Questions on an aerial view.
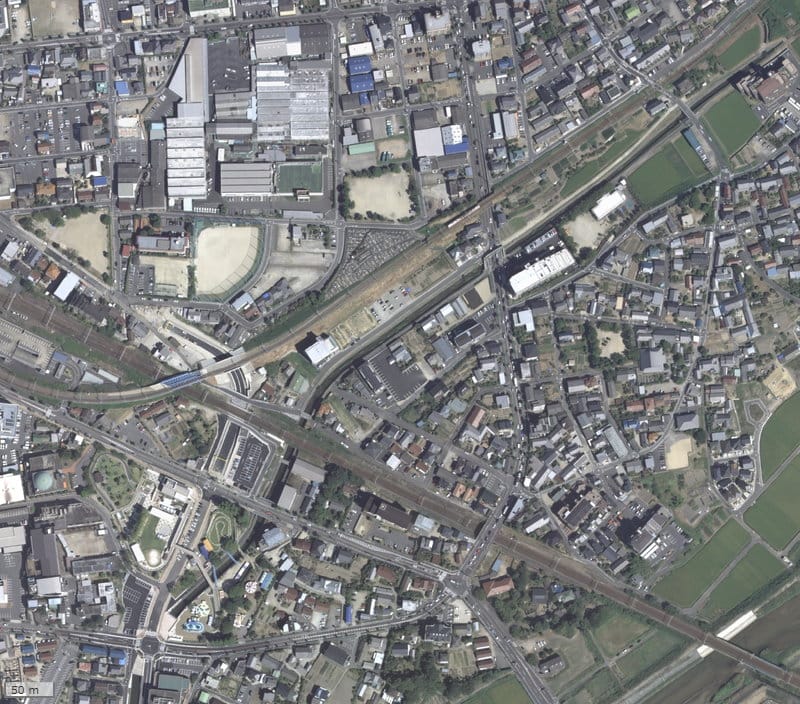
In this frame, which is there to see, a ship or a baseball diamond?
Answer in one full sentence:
Visible in the photo is a baseball diamond.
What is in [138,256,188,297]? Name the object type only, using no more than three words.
sports field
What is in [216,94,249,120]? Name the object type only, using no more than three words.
building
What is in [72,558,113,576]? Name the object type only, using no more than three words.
building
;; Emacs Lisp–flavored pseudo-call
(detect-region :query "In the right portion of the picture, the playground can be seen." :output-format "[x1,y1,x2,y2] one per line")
[598,331,625,357]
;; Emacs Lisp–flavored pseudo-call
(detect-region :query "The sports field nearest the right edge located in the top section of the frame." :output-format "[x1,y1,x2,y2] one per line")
[352,173,410,218]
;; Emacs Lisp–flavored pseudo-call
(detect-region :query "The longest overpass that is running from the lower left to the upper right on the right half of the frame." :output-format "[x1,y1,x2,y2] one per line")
[452,492,516,582]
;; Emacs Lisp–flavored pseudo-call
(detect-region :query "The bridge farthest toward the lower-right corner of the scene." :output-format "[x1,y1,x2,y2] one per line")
[705,630,800,690]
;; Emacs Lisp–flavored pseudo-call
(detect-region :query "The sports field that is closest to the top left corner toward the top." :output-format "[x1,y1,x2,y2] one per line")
[40,212,109,282]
